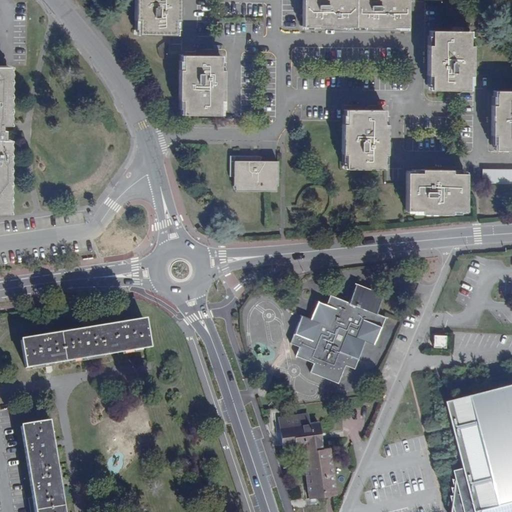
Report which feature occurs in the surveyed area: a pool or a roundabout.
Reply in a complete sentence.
The image shows a roundabout.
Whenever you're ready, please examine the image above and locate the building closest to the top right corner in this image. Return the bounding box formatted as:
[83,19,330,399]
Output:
[428,32,477,92]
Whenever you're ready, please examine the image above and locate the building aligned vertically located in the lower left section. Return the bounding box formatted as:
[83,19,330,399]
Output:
[19,418,67,512]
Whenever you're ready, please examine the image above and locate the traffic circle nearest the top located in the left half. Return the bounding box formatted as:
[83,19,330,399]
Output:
[142,232,219,308]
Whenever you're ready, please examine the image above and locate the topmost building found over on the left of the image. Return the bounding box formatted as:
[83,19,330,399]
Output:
[134,0,183,36]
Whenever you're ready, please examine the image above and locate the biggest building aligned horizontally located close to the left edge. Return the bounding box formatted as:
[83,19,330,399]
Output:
[22,316,154,367]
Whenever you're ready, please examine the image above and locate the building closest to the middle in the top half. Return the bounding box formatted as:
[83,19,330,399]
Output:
[229,156,279,190]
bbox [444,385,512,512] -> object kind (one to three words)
building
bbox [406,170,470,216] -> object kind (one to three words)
building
